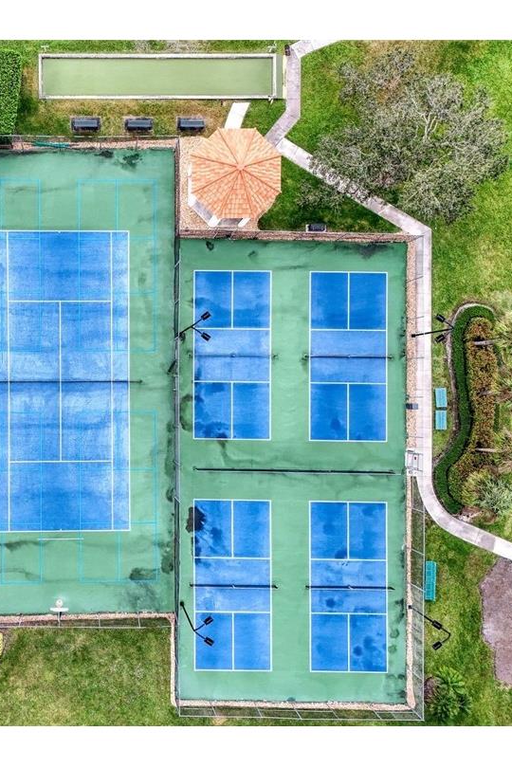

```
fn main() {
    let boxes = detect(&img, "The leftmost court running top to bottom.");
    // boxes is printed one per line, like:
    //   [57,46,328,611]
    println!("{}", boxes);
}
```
[0,149,175,618]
